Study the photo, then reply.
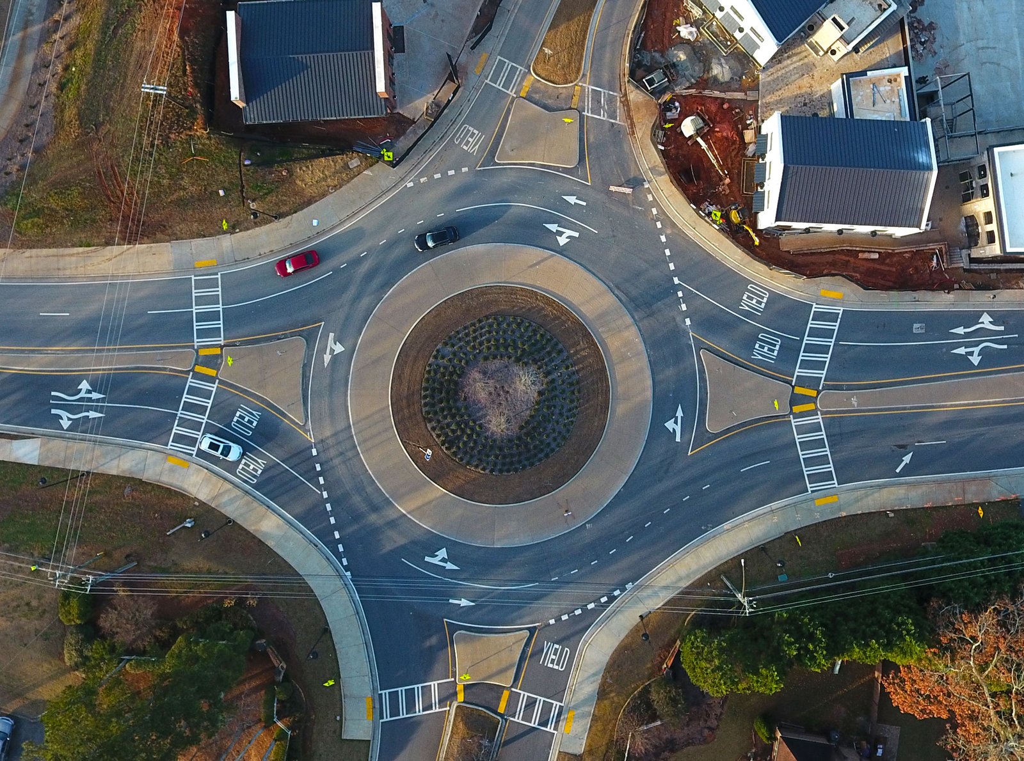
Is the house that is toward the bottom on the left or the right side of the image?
right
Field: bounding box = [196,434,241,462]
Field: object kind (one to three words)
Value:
car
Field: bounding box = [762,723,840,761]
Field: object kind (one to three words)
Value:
house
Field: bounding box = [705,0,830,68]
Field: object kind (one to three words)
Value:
building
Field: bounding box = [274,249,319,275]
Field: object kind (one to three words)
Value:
car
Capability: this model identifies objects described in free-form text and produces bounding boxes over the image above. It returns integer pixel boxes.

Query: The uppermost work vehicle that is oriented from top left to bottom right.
[676,116,729,180]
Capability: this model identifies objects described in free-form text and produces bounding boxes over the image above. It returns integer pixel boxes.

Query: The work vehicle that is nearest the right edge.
[729,210,760,247]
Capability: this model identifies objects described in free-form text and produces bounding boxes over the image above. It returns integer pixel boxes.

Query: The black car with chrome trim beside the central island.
[414,224,459,251]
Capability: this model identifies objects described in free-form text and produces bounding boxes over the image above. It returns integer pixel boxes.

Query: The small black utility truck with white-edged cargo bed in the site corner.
[642,63,670,89]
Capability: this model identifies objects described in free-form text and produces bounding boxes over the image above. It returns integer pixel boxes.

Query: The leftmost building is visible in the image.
[221,0,400,130]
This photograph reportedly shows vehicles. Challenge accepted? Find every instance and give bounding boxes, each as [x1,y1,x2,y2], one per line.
[274,249,319,275]
[729,210,760,247]
[0,716,13,759]
[414,224,459,251]
[642,63,670,89]
[196,434,241,462]
[676,116,729,180]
